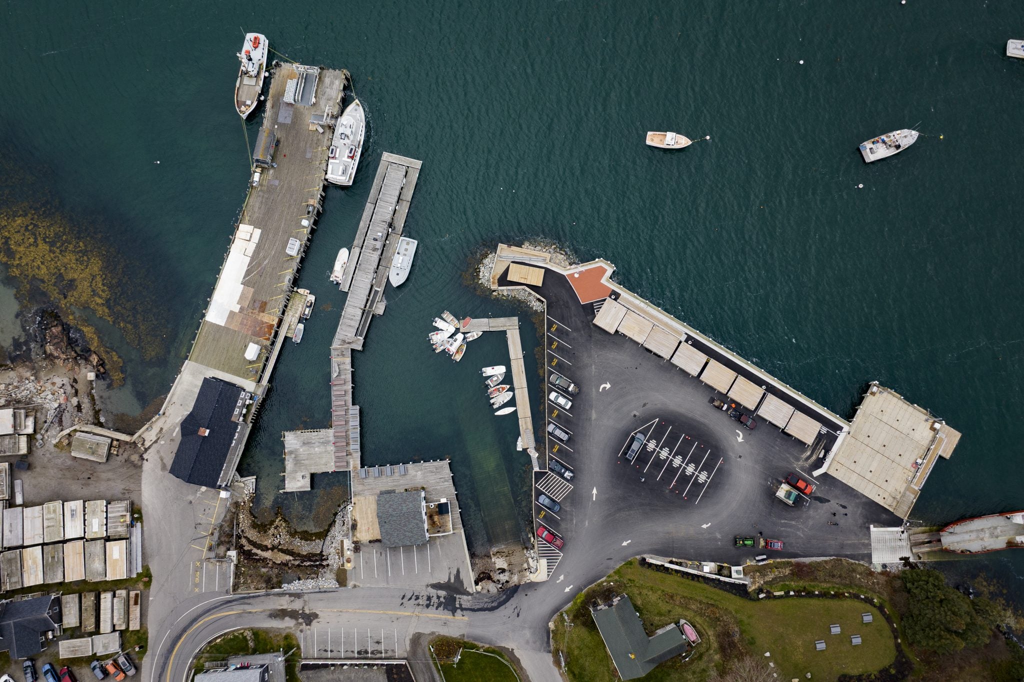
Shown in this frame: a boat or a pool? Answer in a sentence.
Visible in the photo is a boat.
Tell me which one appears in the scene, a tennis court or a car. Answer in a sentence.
I can see a car in this picture.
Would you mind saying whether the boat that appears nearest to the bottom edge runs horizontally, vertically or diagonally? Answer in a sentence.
In this picture, the boat that appears nearest to the bottom edge lies diagonally.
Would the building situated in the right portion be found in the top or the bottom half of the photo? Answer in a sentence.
The building situated in the right portion sits in the bottom half of the picture.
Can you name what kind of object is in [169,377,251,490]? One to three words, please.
building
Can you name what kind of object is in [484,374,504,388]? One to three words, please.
boat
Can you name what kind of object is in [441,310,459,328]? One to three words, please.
boat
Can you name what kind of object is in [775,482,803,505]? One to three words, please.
truck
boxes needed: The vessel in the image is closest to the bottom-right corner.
[934,509,1024,556]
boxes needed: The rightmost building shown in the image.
[588,593,688,681]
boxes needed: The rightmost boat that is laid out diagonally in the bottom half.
[680,618,700,646]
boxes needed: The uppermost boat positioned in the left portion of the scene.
[230,25,267,118]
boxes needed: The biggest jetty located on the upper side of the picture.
[188,60,351,381]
